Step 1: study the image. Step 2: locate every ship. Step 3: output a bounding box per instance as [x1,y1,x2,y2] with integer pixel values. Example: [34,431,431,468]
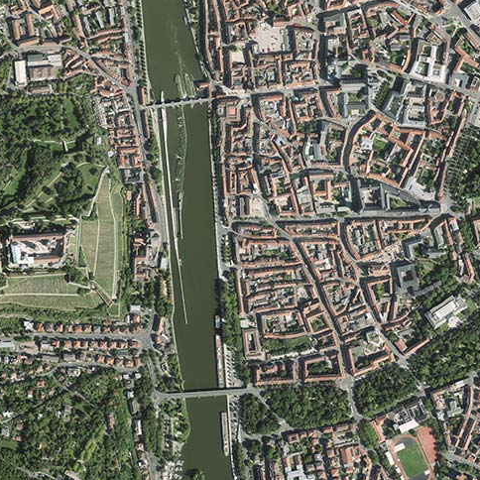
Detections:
[221,413,227,457]
[215,334,224,387]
